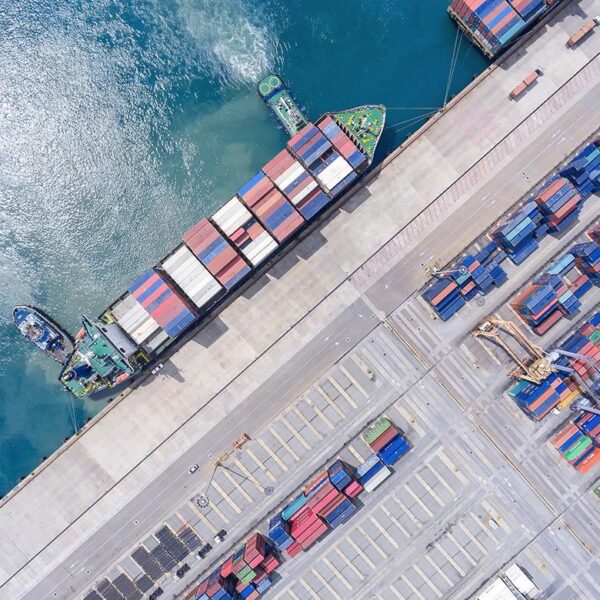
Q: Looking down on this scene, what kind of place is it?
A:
port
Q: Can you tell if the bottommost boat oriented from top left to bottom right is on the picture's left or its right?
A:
left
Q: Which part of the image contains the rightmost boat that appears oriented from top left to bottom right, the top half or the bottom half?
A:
top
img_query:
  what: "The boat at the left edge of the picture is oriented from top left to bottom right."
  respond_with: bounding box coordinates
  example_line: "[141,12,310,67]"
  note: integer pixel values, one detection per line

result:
[15,304,78,363]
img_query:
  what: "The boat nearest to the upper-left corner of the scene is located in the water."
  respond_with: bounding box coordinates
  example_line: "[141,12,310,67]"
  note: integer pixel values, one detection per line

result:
[255,79,309,142]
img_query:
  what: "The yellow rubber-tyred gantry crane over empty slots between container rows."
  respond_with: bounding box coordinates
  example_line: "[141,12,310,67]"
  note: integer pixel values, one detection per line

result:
[471,316,560,387]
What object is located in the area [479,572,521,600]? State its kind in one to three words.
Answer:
shed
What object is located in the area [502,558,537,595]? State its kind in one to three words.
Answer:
shed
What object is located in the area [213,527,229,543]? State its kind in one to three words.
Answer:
vehicle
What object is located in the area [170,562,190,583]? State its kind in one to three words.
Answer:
vehicle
